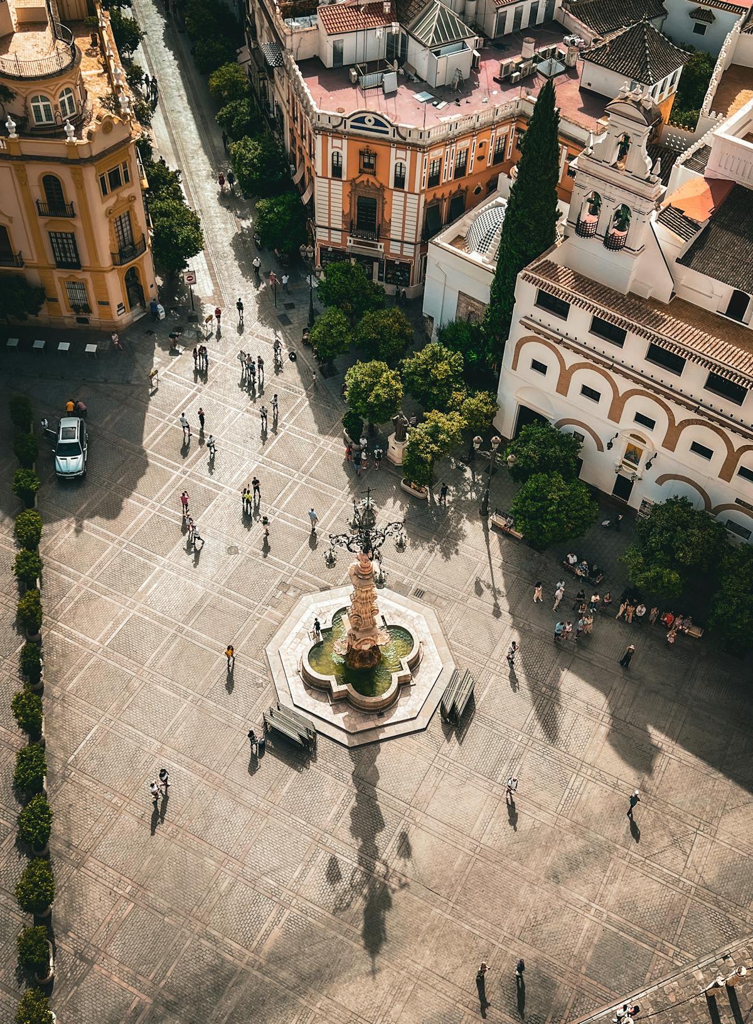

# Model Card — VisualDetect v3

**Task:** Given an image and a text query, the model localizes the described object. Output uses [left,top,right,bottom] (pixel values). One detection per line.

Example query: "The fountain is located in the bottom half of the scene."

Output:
[261,491,462,758]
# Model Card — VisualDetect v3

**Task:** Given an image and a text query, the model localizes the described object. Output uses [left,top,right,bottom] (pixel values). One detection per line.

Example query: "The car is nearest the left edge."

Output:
[42,412,93,478]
